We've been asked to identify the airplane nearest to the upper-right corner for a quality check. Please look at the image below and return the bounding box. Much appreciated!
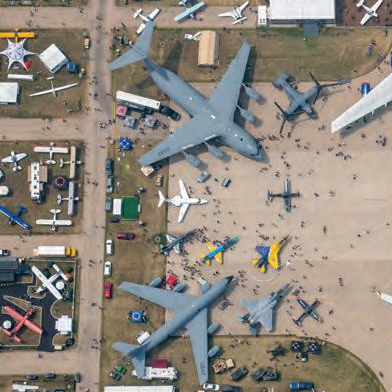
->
[356,0,382,25]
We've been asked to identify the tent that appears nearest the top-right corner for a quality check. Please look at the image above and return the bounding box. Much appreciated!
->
[199,30,217,68]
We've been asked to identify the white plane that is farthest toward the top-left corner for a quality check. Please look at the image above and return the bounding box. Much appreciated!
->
[28,75,78,97]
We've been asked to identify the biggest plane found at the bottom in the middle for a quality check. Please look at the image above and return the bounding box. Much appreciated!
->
[114,273,234,386]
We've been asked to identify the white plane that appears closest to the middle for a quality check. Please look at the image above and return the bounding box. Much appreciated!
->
[157,178,208,221]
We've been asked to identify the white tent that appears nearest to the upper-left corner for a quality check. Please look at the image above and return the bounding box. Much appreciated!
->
[0,33,38,71]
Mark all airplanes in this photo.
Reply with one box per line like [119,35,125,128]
[220,1,250,24]
[32,264,67,301]
[356,0,382,25]
[157,178,208,221]
[57,180,80,215]
[33,142,67,163]
[0,202,30,234]
[272,71,345,129]
[28,75,78,97]
[268,178,302,211]
[133,7,158,32]
[198,237,239,268]
[0,150,27,171]
[59,146,82,178]
[114,273,234,386]
[175,0,205,22]
[237,283,290,336]
[36,209,71,230]
[2,304,43,344]
[249,236,288,274]
[105,22,264,172]
[0,27,34,48]
[290,298,321,328]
